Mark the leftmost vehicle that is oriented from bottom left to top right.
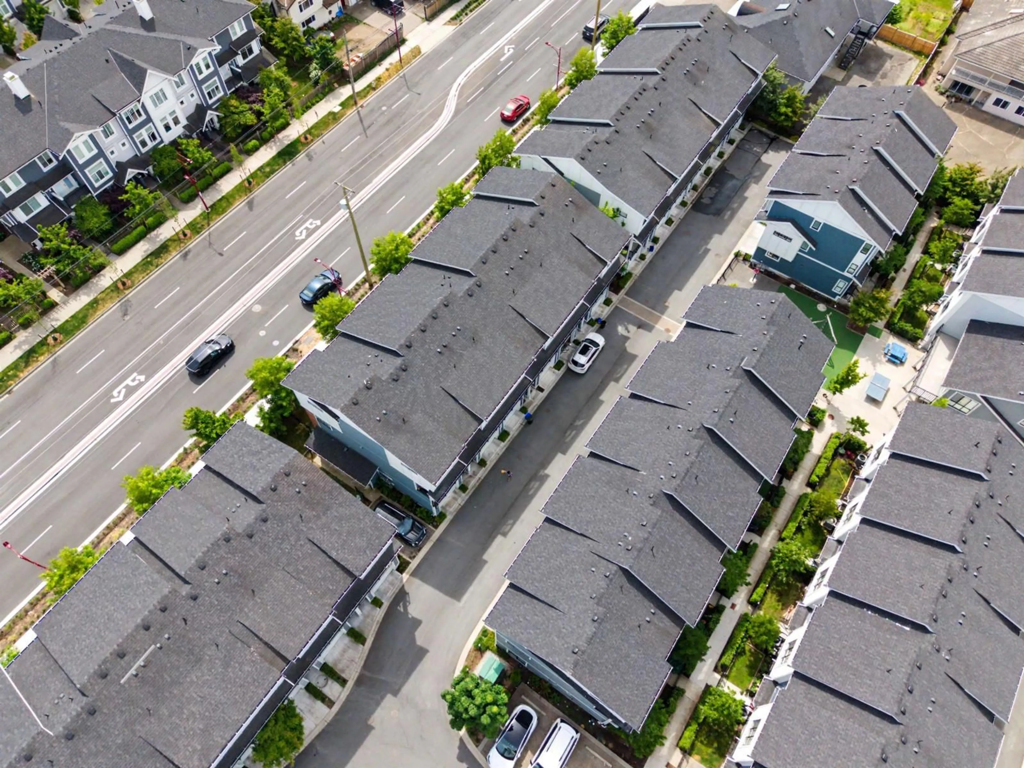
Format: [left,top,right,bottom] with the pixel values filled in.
[183,331,236,377]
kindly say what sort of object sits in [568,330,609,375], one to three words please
car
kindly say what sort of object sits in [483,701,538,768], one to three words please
car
